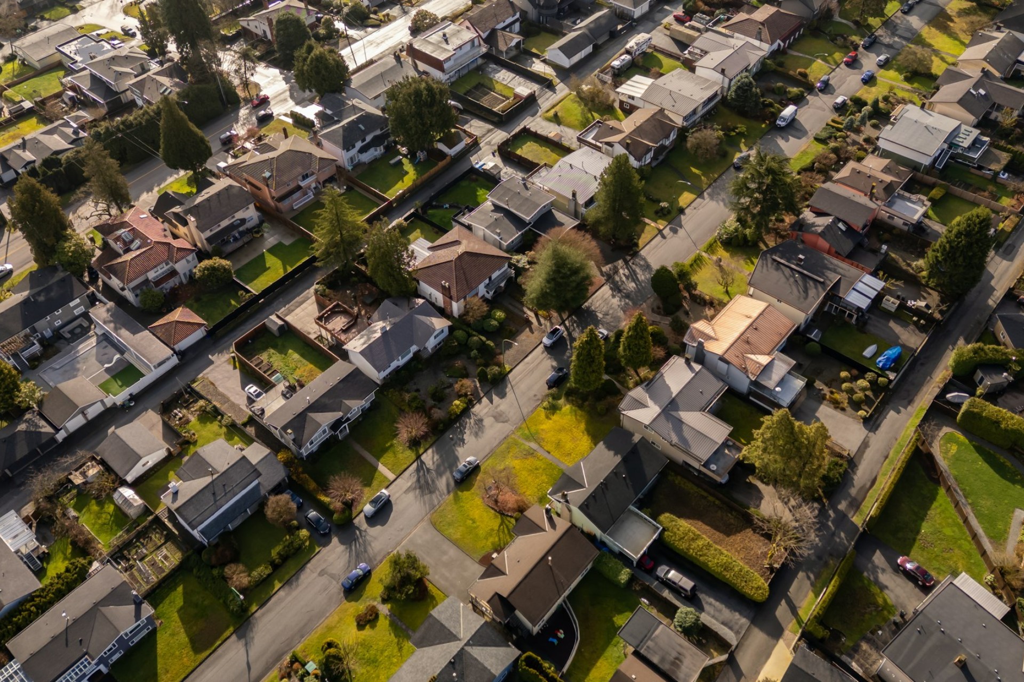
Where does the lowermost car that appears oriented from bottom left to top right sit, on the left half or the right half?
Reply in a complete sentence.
You can find the lowermost car that appears oriented from bottom left to top right on the left side of the picture.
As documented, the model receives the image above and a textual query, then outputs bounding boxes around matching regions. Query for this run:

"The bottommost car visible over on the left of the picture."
[340,564,372,593]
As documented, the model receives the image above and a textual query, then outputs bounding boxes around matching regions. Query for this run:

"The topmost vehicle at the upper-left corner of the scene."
[118,22,139,37]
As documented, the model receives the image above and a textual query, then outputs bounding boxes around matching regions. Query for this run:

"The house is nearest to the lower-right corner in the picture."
[872,571,1024,682]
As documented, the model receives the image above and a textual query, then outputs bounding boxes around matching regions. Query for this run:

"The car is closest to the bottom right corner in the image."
[897,559,934,586]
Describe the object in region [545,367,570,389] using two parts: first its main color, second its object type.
black car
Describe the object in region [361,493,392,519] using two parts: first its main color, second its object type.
gray car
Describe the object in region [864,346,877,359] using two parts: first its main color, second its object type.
gray boat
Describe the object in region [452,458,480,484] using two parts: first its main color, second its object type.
gray car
